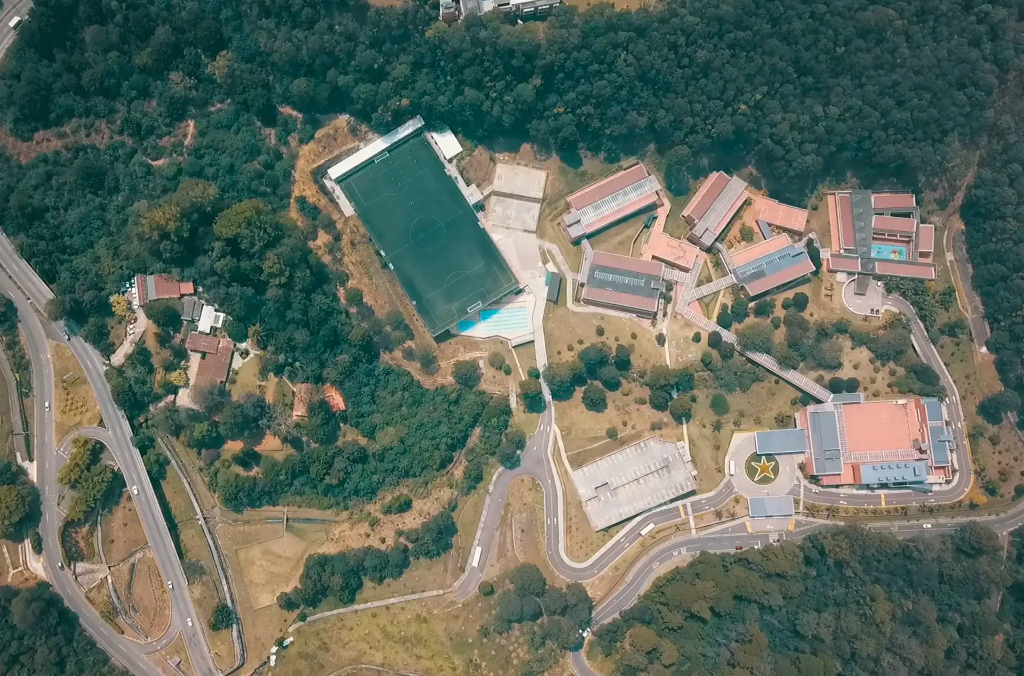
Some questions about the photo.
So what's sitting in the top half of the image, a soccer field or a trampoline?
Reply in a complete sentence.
There is a soccer field in the top half of the image.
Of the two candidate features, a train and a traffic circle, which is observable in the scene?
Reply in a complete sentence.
It is a traffic circle that can be seen here.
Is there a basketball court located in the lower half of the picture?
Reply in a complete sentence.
No, the scene shows no basketball court in the lower half of the picture.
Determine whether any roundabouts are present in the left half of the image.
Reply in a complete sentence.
No, no roundabout appears in the left half of the image.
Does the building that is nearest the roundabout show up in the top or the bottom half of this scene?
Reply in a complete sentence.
The building that is nearest the roundabout is in the bottom half of the image.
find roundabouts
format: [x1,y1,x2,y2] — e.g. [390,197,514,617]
[726,431,804,499]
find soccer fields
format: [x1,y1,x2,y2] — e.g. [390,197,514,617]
[336,125,521,337]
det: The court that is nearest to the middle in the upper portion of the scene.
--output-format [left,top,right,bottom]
[487,196,541,233]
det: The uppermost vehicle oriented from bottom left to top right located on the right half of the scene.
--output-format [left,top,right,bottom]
[638,521,655,537]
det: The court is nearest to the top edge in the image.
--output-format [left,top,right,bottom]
[492,163,548,201]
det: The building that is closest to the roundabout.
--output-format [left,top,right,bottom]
[792,398,959,493]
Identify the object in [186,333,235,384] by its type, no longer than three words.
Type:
house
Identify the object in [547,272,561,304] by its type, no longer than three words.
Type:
shed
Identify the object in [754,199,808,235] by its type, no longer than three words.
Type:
sports court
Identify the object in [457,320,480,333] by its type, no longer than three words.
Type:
swimming pool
